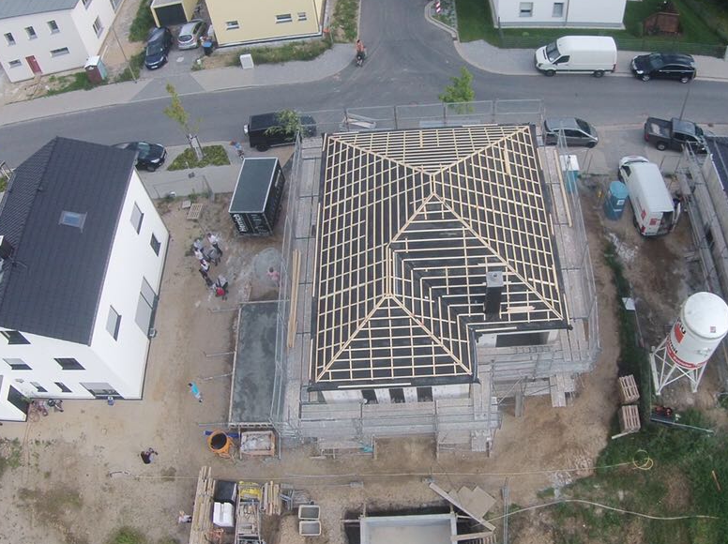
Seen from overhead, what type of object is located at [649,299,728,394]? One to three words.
silo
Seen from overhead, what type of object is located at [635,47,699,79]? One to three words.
car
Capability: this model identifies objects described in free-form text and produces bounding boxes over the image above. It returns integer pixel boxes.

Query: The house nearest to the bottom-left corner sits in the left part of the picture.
[0,142,169,423]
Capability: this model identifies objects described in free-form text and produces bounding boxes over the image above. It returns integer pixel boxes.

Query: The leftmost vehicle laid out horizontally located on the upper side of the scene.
[104,138,165,166]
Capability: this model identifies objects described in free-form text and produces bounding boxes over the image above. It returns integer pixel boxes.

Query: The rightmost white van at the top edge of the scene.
[540,27,621,69]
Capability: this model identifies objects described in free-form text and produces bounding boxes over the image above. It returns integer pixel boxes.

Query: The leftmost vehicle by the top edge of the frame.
[136,26,174,69]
